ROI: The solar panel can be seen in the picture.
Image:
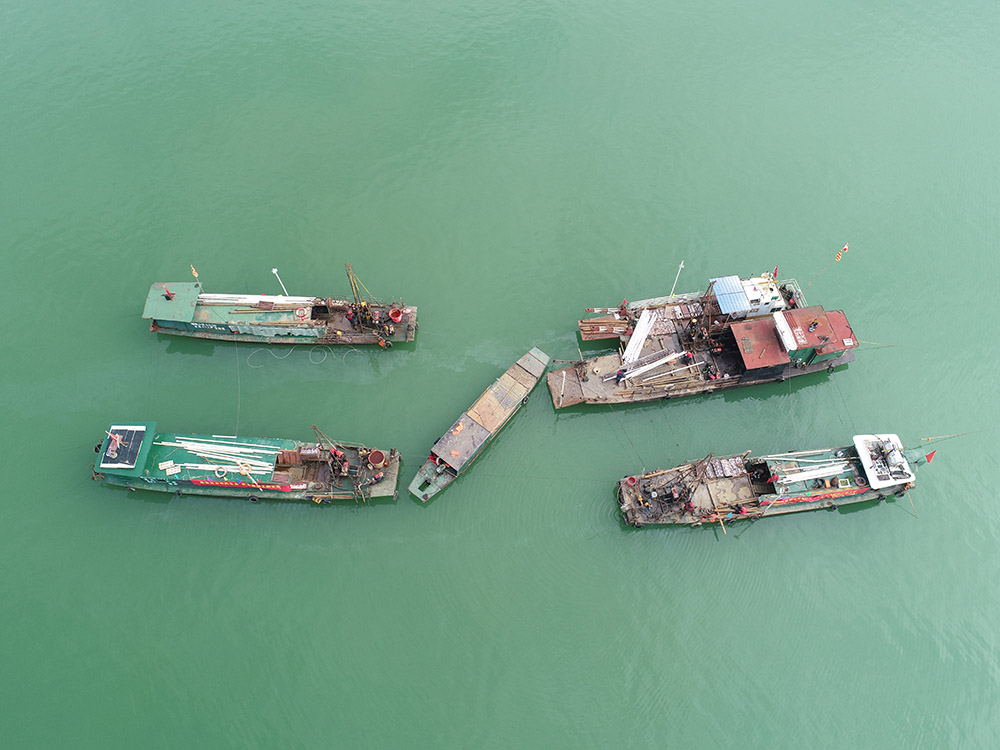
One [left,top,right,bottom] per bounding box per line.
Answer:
[104,430,146,464]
